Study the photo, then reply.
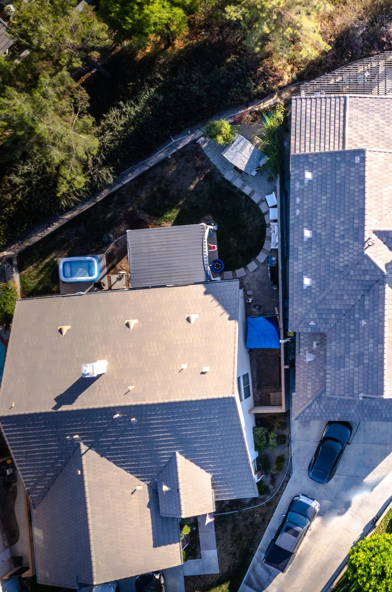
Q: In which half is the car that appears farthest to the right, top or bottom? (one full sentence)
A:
Seen from above, the car that appears farthest to the right lies in the bottom half of the view.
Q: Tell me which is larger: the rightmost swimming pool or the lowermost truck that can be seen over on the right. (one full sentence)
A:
The truck takes up more space than the swimming pool does.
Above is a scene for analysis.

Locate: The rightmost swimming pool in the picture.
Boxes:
[55,255,98,283]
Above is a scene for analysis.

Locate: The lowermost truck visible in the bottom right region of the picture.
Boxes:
[258,493,321,583]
